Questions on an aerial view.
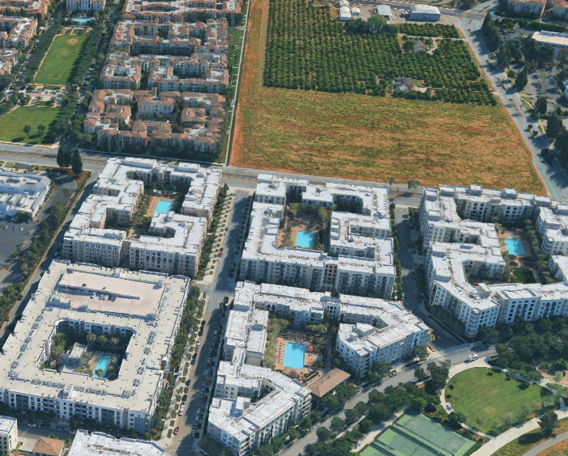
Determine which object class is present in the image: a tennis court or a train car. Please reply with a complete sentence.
There is a tennis court in the scene.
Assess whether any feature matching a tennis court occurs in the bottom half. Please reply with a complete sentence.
Yes, there is a tennis court in the bottom half.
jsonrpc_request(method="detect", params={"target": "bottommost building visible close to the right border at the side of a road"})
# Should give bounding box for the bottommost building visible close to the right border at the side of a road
[417,183,568,338]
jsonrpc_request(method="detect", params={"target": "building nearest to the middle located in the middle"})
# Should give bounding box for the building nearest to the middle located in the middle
[238,173,396,297]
